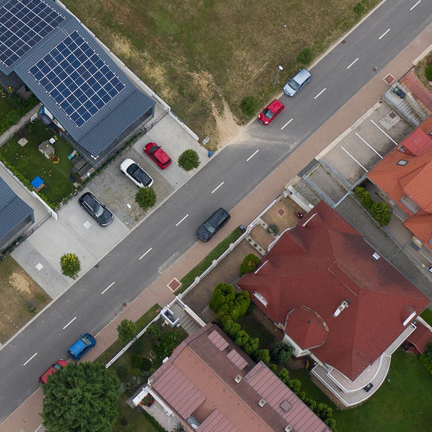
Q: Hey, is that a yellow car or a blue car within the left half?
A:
blue car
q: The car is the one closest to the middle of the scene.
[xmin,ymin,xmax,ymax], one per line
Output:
[194,205,234,242]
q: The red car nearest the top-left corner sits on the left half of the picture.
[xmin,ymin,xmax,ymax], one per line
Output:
[141,141,176,172]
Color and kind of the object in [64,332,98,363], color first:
blue car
